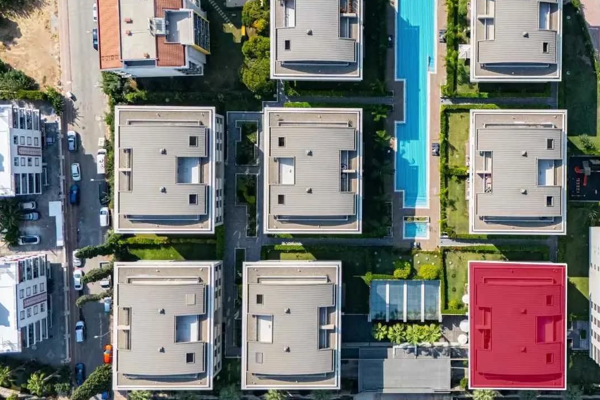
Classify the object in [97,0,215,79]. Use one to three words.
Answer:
building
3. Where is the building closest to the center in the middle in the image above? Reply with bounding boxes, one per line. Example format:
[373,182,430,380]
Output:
[264,108,365,235]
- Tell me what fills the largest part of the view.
buildings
